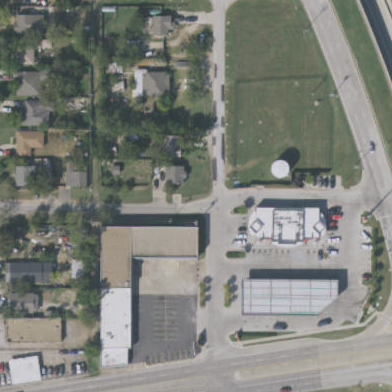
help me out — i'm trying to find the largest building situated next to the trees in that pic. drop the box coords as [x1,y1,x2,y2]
[100,226,198,368]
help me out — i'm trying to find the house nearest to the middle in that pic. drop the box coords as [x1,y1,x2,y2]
[166,166,186,184]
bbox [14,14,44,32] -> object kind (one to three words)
house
